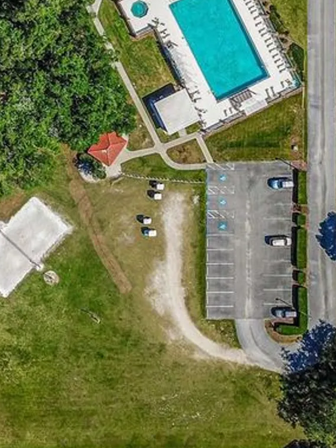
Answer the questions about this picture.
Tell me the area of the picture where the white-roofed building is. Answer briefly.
top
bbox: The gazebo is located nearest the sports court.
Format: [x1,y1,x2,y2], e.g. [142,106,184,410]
[87,129,128,166]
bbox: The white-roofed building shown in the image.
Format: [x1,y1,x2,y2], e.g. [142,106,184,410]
[151,88,200,135]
